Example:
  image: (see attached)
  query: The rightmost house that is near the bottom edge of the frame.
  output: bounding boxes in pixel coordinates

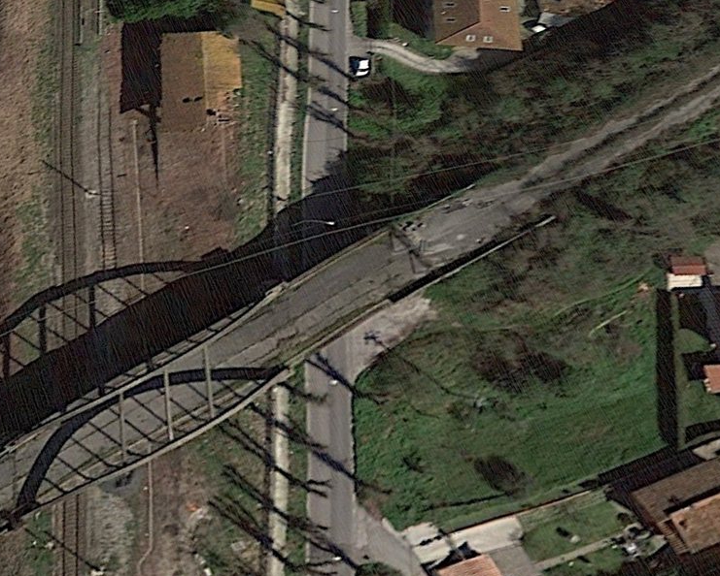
[622,453,720,558]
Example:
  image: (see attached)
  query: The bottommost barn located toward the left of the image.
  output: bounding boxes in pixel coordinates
[160,31,242,130]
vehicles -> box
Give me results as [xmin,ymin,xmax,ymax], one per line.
[355,54,373,79]
[523,17,552,36]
